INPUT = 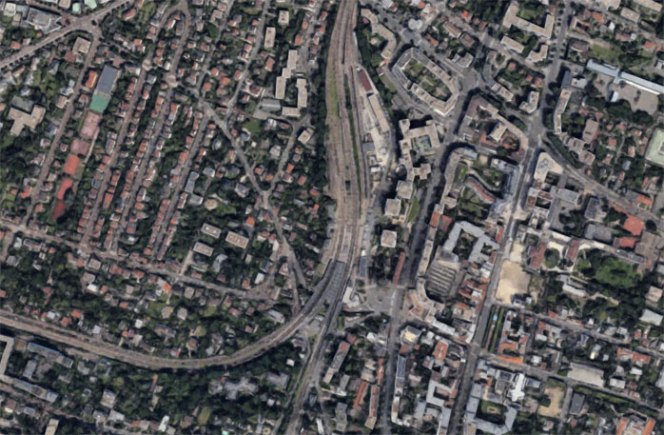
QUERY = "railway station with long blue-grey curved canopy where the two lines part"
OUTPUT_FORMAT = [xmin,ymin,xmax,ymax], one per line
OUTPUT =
[303,222,364,321]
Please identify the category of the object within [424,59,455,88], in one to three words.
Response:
building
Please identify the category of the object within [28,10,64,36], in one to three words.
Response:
building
